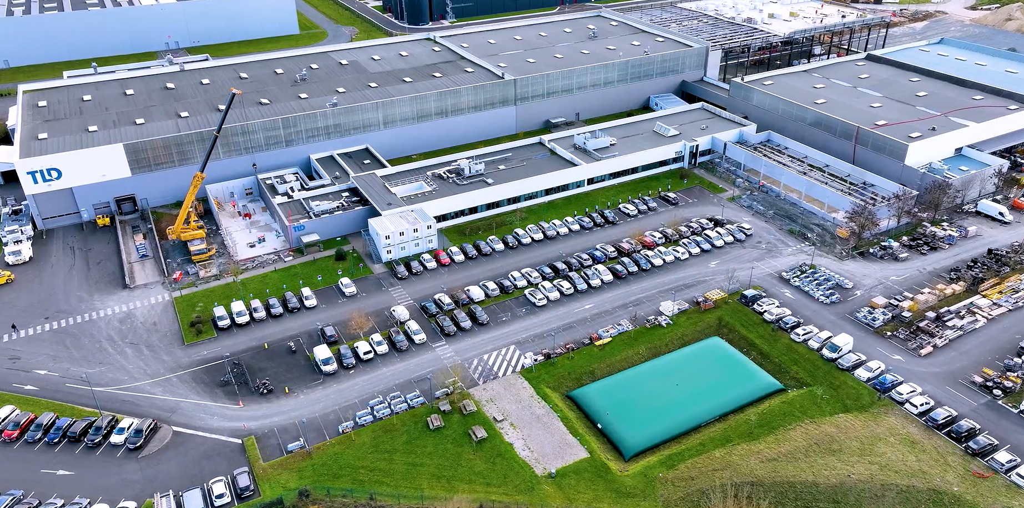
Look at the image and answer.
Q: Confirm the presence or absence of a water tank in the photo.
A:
Yes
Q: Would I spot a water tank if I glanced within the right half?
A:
Yes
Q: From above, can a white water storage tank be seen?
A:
No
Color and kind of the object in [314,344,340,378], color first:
white vehicle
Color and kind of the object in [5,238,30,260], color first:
white work vehicle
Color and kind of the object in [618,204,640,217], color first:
white vehicle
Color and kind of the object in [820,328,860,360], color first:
white van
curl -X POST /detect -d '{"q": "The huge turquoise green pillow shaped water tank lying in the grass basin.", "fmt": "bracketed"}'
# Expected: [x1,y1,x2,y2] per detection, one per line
[567,338,787,463]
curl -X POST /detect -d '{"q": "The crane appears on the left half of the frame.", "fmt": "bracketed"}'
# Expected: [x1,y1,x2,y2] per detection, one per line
[167,88,256,262]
